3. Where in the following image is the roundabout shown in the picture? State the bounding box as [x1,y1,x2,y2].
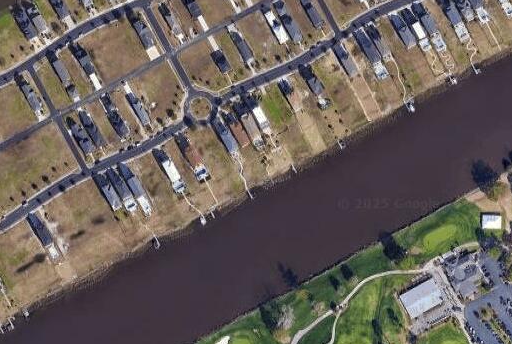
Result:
[179,88,220,129]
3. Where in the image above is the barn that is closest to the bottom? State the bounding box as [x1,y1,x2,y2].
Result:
[400,279,445,318]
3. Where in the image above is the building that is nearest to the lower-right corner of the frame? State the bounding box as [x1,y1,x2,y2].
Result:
[446,256,490,300]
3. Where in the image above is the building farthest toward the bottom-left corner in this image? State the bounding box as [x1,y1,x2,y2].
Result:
[27,215,55,249]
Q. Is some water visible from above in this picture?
Yes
